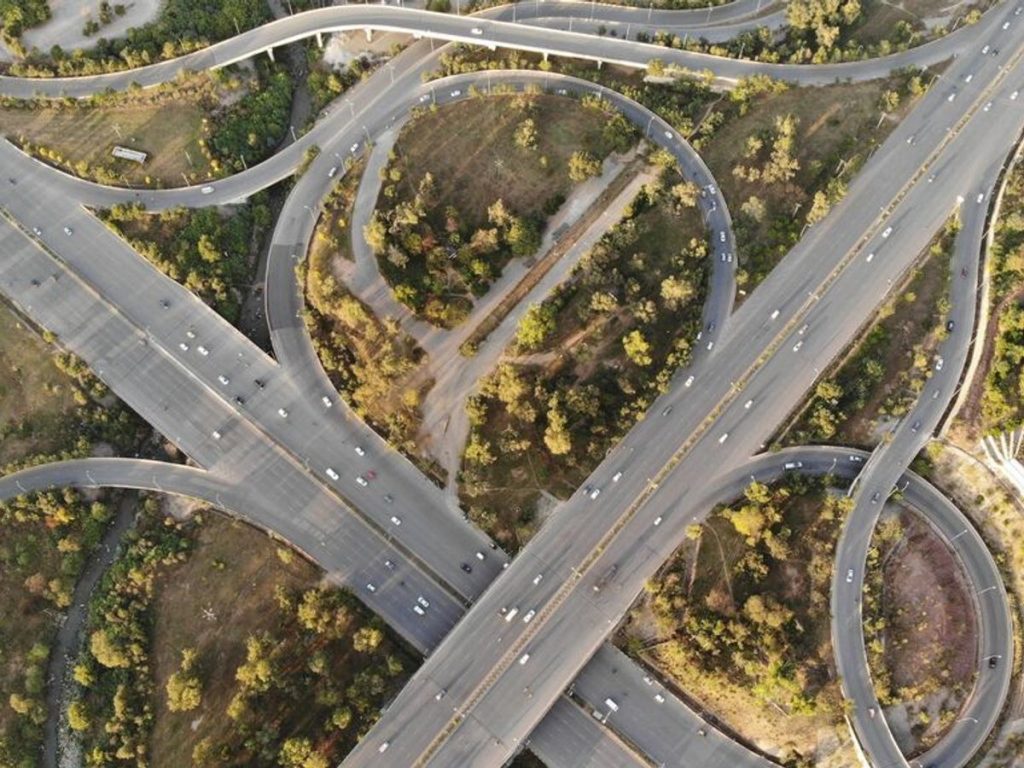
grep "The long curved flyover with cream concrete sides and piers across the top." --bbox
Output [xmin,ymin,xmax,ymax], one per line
[0,0,1018,101]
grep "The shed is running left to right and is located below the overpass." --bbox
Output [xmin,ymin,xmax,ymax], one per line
[112,147,149,166]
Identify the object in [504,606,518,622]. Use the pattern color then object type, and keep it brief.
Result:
white vehicle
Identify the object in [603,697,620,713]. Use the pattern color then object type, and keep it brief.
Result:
white vehicle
